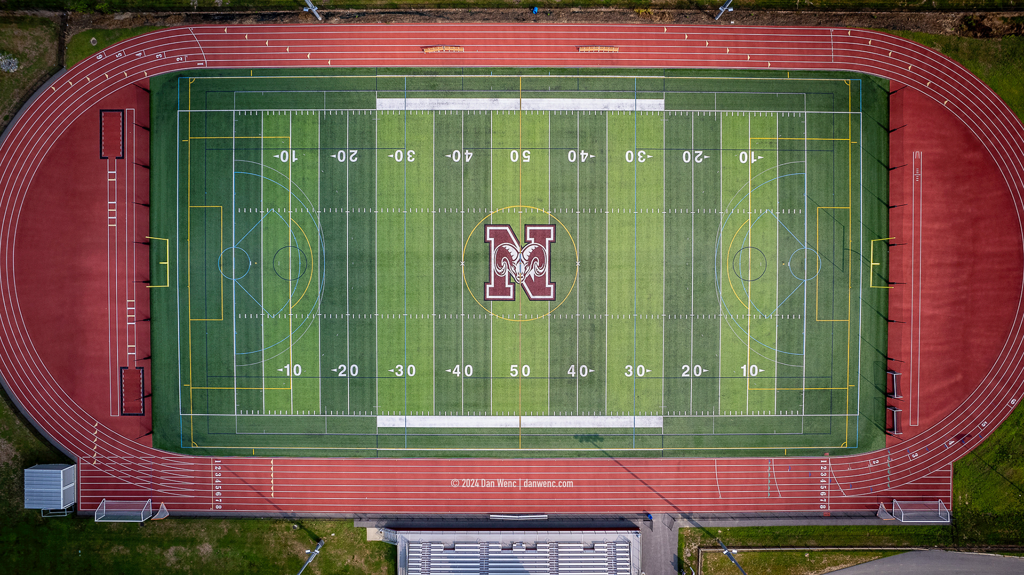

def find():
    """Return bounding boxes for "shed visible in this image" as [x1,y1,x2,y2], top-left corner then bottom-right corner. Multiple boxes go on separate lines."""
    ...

[24,465,76,509]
